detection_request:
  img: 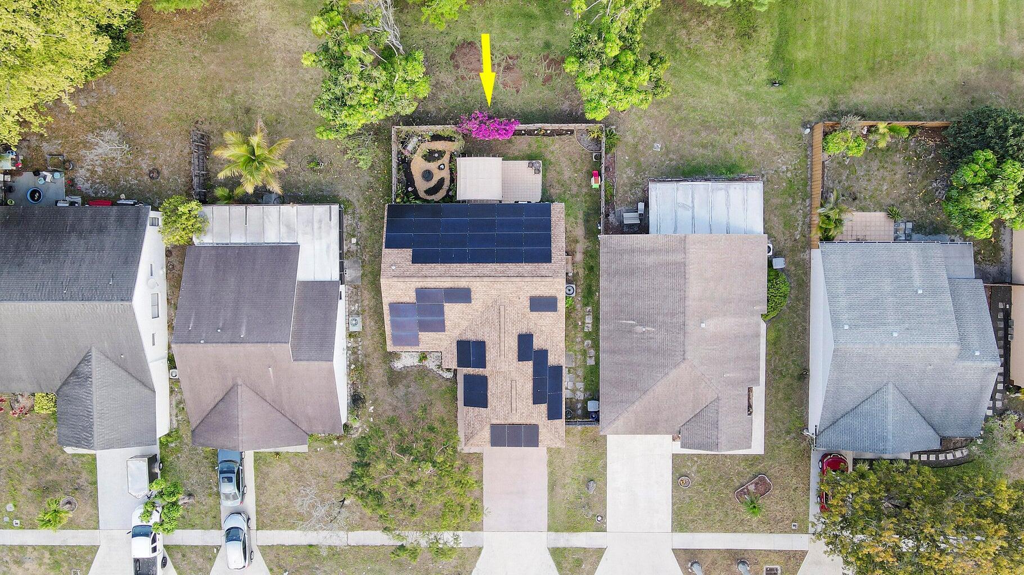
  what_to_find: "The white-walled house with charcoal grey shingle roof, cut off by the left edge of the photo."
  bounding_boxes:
[0,205,167,451]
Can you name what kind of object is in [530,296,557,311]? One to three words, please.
solar panel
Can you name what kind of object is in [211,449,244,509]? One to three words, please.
car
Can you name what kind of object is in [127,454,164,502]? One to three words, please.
trailer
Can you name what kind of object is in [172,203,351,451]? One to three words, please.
house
